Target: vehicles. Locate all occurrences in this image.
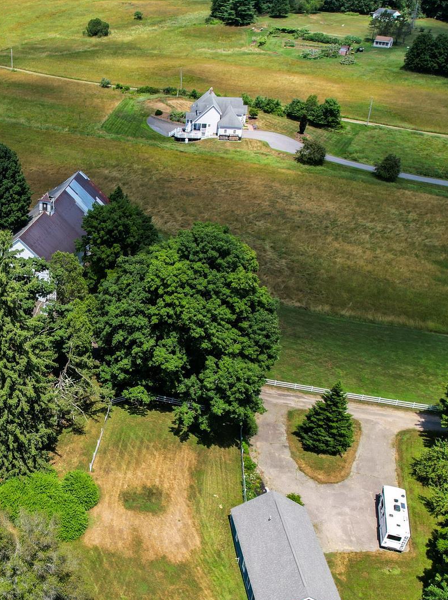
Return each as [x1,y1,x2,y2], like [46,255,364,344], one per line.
[355,47,363,53]
[372,488,407,557]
